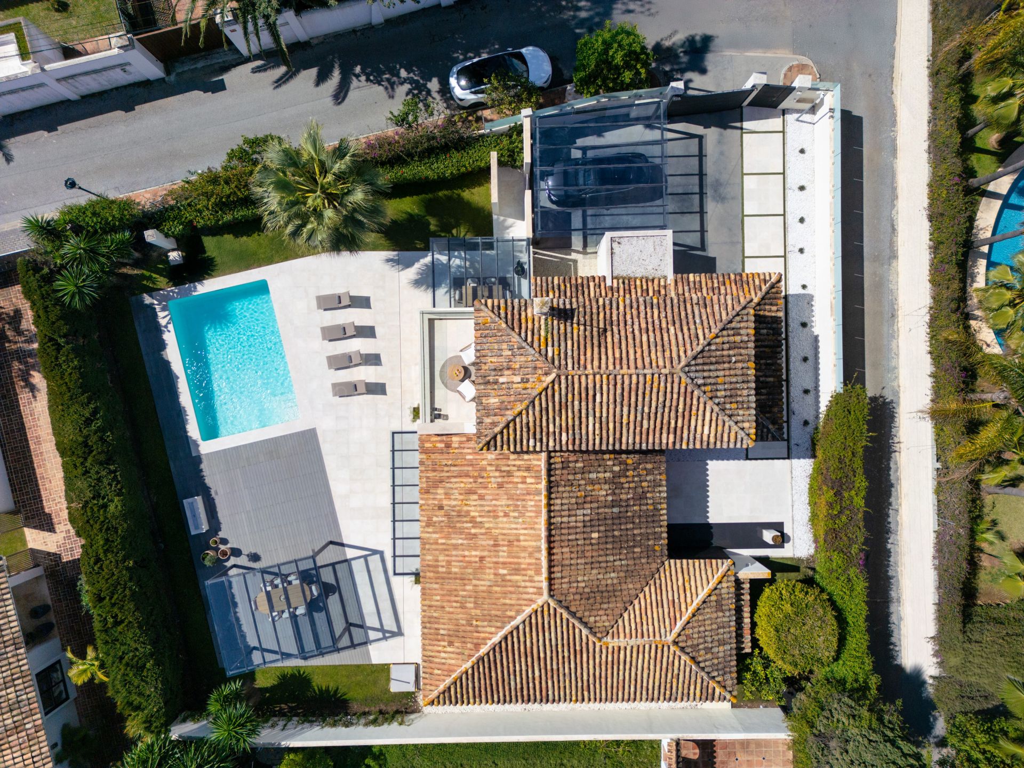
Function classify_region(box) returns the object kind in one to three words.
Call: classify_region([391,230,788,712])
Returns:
house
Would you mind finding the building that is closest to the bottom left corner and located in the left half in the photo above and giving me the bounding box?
[0,541,94,768]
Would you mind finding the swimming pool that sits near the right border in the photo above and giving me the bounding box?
[967,161,1024,370]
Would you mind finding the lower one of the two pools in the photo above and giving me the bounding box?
[152,267,314,457]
